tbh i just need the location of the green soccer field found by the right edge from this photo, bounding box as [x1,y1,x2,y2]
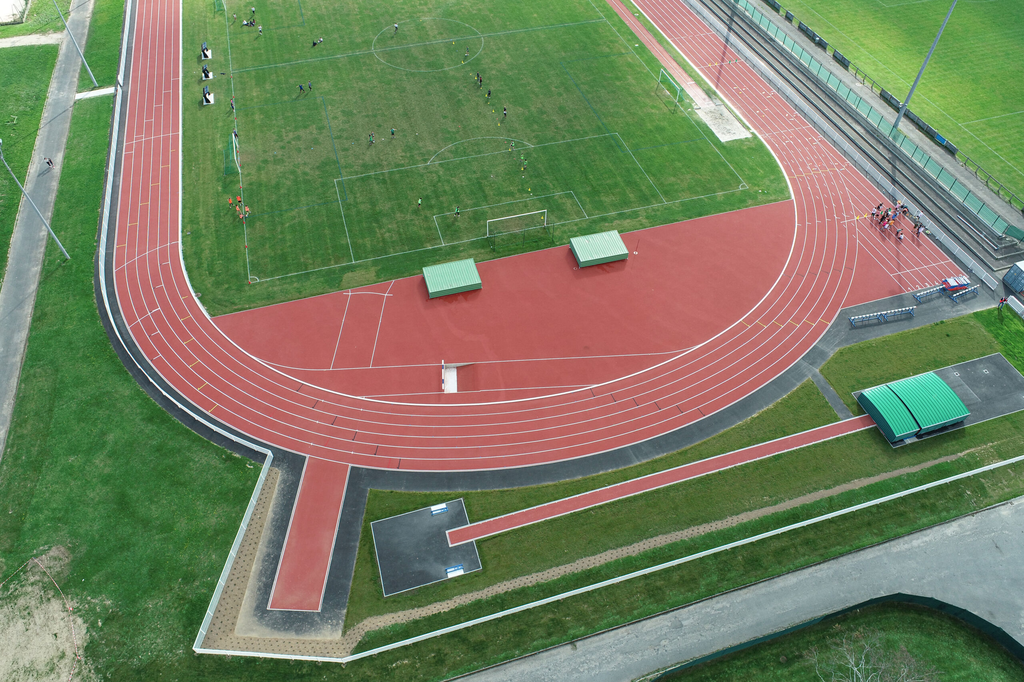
[769,0,1024,211]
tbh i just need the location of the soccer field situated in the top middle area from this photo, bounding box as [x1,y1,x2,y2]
[179,0,793,318]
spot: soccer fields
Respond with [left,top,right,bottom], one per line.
[769,0,1024,211]
[179,0,793,318]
